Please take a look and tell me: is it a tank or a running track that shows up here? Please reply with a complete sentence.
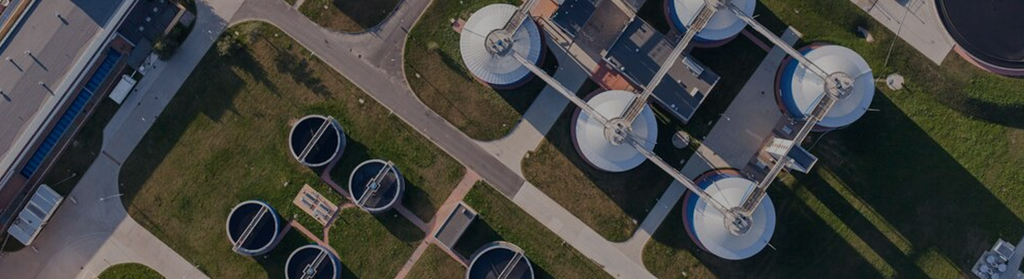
I can see a tank in this picture.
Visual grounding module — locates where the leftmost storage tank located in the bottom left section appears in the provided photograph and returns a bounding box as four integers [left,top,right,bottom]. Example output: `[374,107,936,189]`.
[226,198,283,254]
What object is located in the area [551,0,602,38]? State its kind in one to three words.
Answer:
building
